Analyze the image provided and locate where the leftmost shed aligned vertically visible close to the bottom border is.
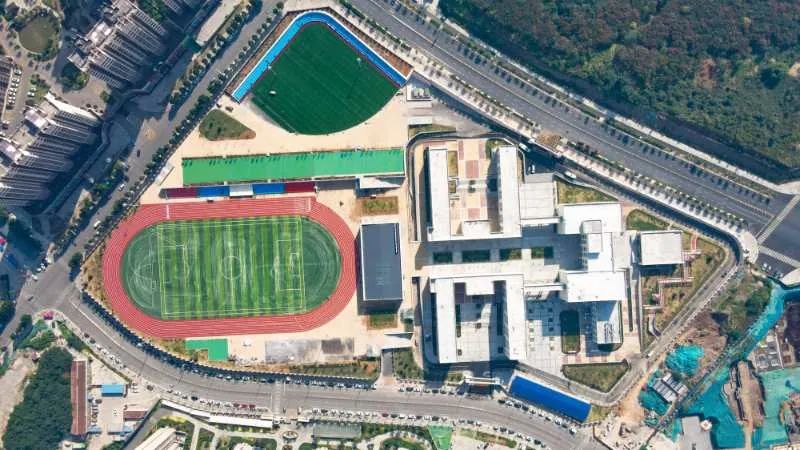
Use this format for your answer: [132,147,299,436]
[71,359,92,436]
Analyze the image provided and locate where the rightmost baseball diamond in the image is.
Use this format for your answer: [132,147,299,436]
[246,22,398,135]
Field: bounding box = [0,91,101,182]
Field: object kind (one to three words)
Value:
building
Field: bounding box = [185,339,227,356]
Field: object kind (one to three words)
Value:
sports court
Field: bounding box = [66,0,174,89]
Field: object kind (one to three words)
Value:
building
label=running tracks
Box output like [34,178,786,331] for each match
[103,196,357,338]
